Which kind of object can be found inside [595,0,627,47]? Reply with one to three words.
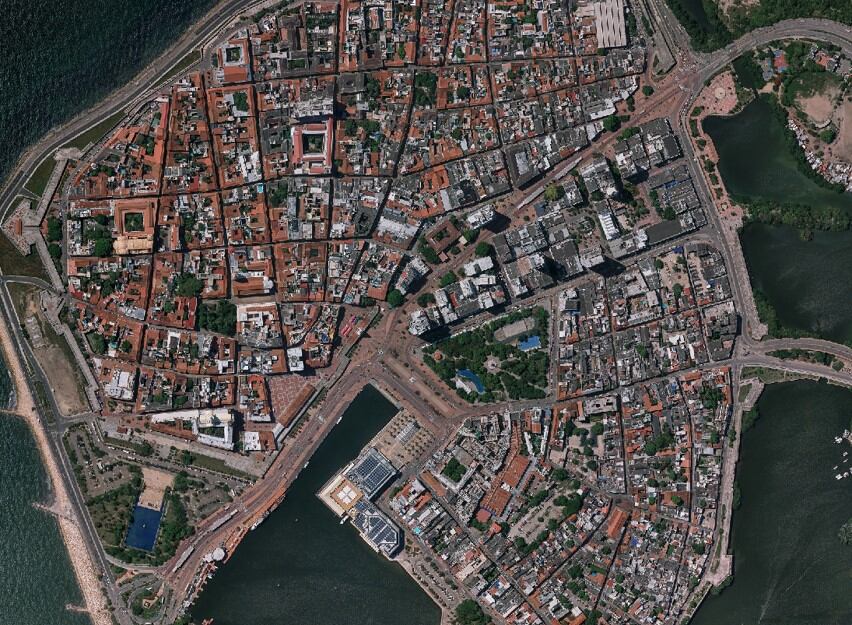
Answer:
building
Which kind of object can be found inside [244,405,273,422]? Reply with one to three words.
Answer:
house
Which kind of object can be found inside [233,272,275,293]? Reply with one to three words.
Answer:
building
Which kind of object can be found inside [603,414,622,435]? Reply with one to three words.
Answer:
house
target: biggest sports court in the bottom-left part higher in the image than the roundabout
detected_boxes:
[138,470,172,510]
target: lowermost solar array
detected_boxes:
[355,507,395,543]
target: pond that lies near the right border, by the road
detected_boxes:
[685,0,852,393]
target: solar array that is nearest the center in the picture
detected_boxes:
[355,456,391,489]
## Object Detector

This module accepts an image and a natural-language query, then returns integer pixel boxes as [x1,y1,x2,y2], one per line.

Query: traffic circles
[132,583,162,620]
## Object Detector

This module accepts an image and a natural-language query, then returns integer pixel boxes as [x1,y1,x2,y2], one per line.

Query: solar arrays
[355,456,391,489]
[355,507,395,543]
